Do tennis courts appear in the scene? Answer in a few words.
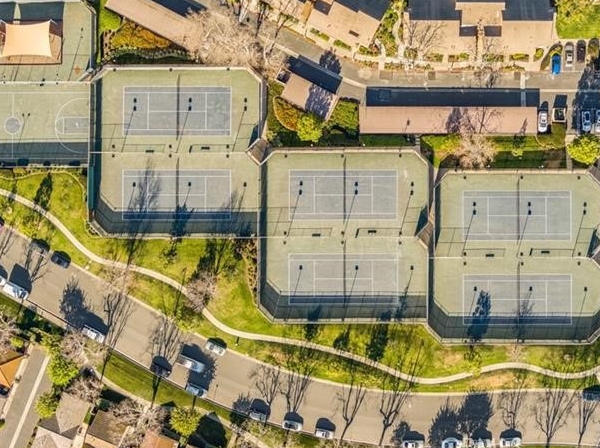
Yes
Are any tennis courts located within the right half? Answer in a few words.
Yes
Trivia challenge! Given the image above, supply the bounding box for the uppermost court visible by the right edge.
[435,176,600,258]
